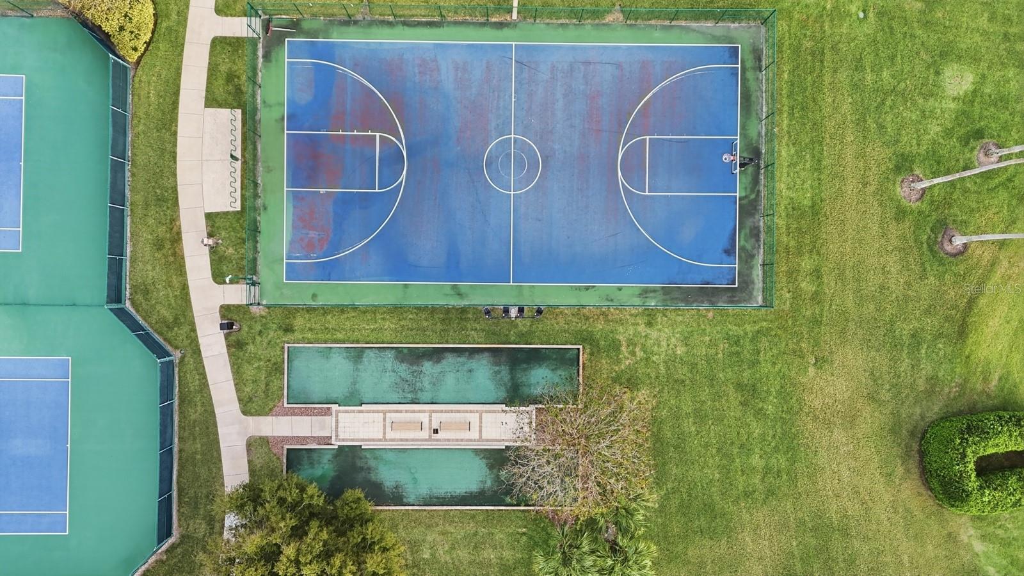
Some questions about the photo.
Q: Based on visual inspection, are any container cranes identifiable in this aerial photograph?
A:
No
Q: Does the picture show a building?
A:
No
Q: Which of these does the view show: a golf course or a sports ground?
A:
sports ground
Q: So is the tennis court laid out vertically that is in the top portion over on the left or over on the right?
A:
left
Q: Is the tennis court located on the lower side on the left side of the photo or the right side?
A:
left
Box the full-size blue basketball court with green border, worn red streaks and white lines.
[255,16,766,309]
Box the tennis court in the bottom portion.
[0,305,173,576]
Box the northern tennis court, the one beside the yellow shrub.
[0,18,129,304]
